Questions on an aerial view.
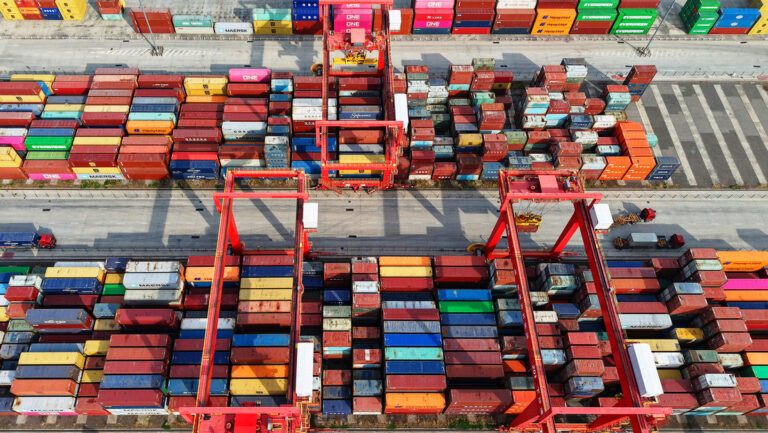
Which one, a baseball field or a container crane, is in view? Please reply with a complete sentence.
The one in the frame is a container crane.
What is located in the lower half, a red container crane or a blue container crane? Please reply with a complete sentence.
Visible in the lower half is a red container crane.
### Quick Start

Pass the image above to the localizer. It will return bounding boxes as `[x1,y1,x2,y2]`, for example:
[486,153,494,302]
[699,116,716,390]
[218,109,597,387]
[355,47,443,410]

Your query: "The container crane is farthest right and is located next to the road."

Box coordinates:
[464,163,677,433]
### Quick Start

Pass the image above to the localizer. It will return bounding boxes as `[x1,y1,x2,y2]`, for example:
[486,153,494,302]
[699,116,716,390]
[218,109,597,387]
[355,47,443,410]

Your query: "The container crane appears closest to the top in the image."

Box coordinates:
[308,0,414,187]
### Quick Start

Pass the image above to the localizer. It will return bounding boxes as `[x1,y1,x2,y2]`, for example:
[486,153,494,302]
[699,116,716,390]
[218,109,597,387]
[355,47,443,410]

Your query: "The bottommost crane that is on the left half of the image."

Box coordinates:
[178,163,330,433]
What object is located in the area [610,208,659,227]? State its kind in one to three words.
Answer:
vehicle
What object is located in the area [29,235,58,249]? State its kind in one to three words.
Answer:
vehicle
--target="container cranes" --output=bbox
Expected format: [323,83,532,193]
[178,163,330,433]
[308,0,414,187]
[464,163,677,433]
